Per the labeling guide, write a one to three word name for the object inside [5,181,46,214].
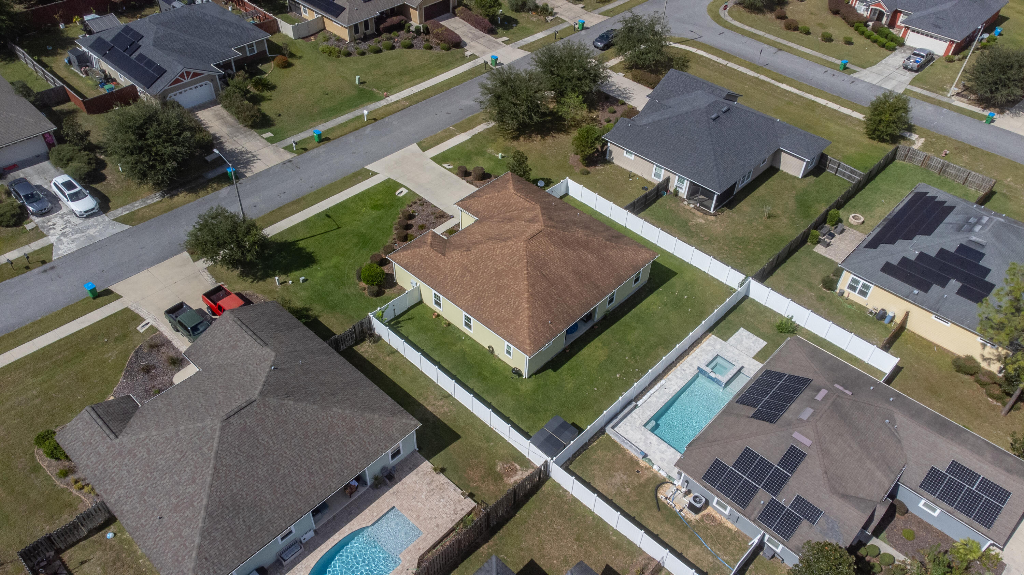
car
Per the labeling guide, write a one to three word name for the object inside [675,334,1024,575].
house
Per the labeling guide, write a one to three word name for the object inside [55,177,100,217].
car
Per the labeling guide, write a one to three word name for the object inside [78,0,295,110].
house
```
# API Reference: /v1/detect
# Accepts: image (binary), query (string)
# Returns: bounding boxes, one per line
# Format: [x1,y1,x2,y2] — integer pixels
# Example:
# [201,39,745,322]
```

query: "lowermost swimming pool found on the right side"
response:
[644,369,753,454]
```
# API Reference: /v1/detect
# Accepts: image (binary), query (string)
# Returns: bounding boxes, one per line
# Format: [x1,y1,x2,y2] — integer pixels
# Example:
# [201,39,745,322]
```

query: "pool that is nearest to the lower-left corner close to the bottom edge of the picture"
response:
[308,506,423,575]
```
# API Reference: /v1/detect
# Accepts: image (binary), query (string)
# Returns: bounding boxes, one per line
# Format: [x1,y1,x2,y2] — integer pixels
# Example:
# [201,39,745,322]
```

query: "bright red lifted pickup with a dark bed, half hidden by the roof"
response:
[202,287,245,318]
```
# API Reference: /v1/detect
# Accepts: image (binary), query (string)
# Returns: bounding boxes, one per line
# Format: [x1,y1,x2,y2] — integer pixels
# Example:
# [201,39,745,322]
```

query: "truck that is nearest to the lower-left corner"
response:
[165,304,213,345]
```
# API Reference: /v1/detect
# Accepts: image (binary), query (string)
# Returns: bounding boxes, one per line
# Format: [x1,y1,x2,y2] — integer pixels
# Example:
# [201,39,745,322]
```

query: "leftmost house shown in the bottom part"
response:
[55,299,422,575]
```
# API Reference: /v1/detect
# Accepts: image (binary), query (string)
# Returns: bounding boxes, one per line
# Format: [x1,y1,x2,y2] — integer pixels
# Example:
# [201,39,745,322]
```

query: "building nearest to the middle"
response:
[386,170,660,379]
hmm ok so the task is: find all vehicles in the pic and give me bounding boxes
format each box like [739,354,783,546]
[55,177,100,217]
[202,287,245,318]
[595,22,625,46]
[5,181,46,214]
[904,42,938,69]
[165,304,213,345]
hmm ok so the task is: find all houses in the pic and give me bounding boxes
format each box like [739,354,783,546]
[0,74,61,176]
[601,68,832,216]
[55,299,422,575]
[386,170,660,379]
[834,182,1024,380]
[78,0,295,110]
[849,0,1010,62]
[675,334,1024,575]
[278,0,454,46]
